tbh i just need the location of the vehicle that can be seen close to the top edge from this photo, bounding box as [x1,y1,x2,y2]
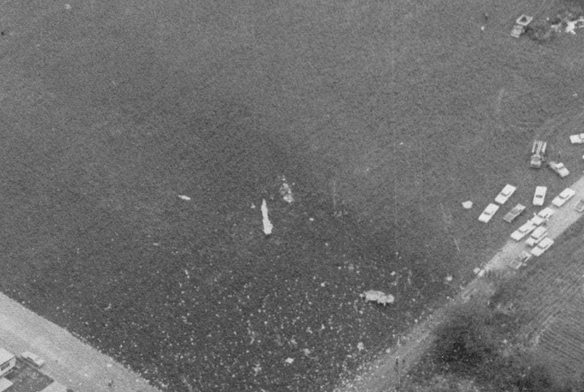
[512,14,531,36]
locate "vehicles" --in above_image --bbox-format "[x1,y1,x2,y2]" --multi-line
[570,134,584,144]
[495,185,516,204]
[532,140,546,169]
[524,225,549,246]
[530,237,555,257]
[502,203,526,223]
[477,203,501,223]
[533,187,546,207]
[548,157,571,177]
[551,189,576,207]
[511,222,536,242]
[531,208,556,227]
[18,350,47,369]
[512,14,531,36]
